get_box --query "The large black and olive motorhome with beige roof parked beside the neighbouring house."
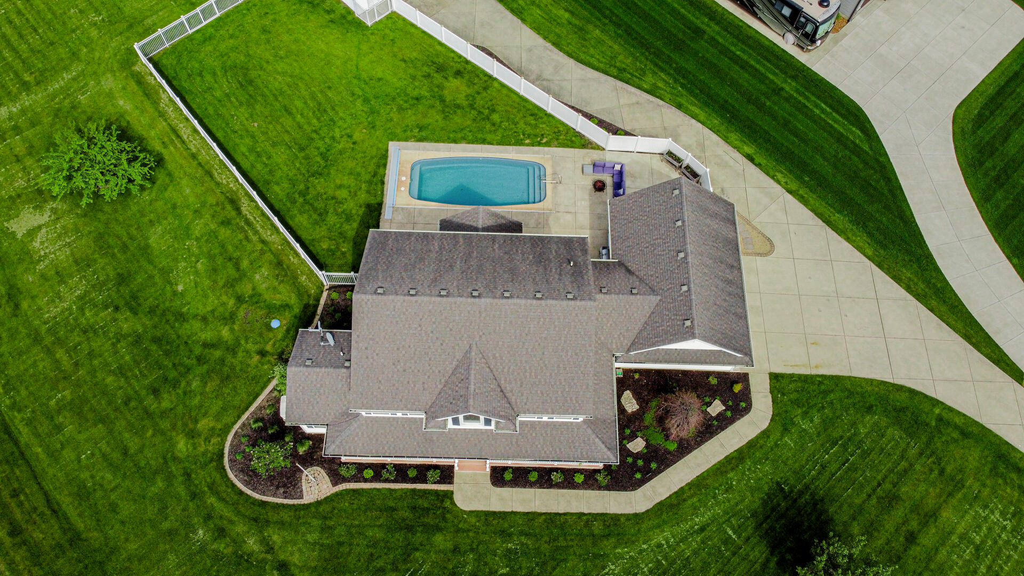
[723,0,838,49]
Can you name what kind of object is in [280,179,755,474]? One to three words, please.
house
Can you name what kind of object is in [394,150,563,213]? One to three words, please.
swimming pool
